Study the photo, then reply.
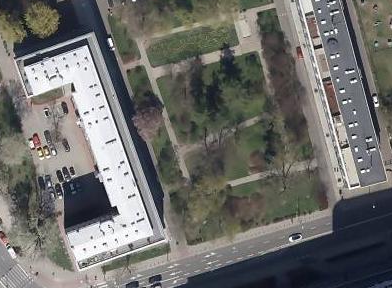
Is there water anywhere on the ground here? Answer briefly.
No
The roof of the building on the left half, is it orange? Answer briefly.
No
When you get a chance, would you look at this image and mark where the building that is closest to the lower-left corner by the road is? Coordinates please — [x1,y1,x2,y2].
[11,32,166,273]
